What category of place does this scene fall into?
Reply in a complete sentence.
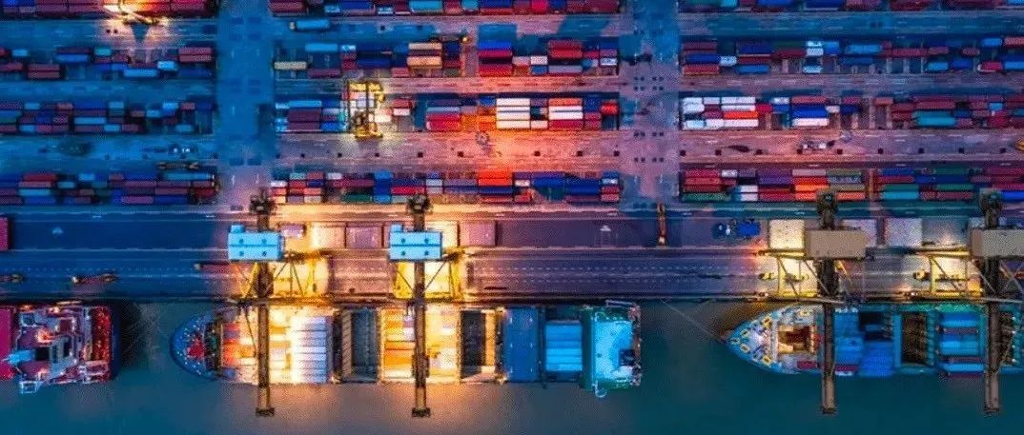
This looks like a port.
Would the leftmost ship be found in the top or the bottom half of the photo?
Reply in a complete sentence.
The bottom half of the photo is where the leftmost ship is.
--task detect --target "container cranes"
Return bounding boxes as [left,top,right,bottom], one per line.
[387,192,464,422]
[342,81,384,143]
[758,192,867,417]
[903,192,1024,419]
[228,192,325,421]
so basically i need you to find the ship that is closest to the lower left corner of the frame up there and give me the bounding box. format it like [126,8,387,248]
[0,303,117,397]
